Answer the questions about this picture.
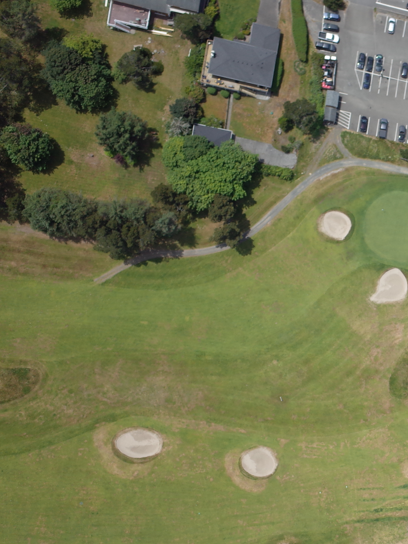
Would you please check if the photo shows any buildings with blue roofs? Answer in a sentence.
No, there is no building with a blue roof in the image.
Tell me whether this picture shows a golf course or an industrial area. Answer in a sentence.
What you see here is a golf course.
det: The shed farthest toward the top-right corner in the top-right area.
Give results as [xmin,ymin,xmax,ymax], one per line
[324,90,340,123]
